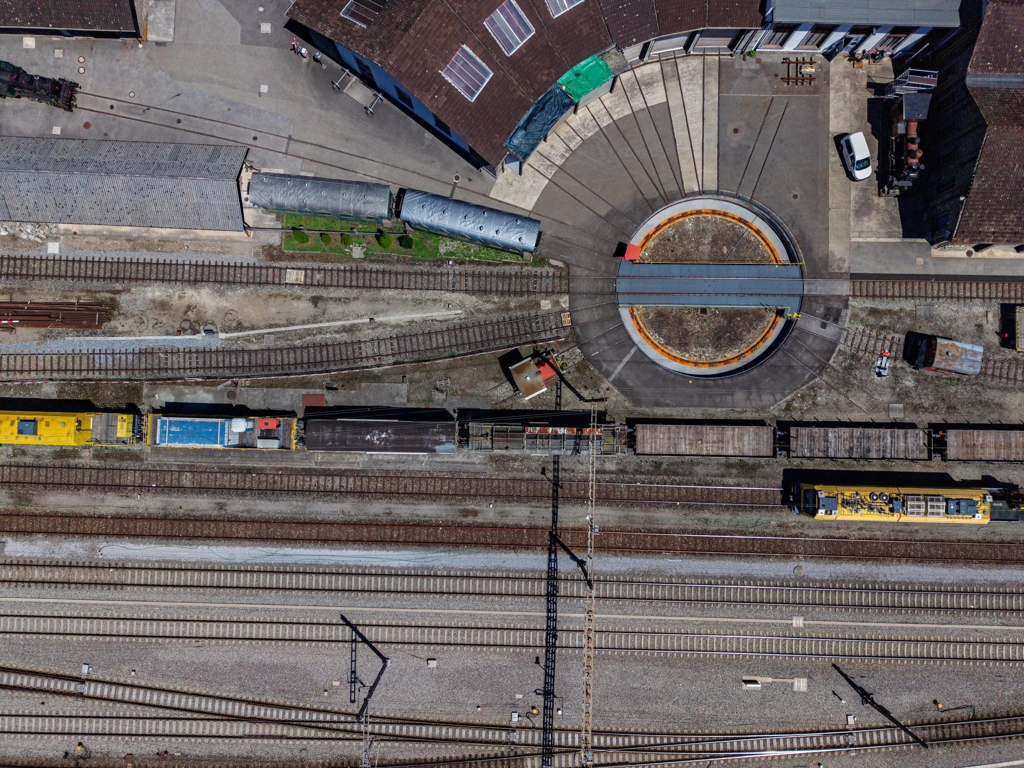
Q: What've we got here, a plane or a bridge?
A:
bridge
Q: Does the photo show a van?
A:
Yes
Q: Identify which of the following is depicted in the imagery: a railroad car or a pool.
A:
railroad car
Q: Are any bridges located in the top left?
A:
No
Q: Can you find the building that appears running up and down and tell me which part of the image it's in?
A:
top right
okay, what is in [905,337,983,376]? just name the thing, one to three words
rail car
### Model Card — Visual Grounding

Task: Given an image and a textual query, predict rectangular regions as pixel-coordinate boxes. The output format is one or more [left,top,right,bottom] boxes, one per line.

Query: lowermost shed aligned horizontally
[0,136,268,236]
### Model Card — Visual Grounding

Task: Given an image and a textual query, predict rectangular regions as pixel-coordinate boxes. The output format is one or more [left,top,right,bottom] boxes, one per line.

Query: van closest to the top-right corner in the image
[839,130,873,185]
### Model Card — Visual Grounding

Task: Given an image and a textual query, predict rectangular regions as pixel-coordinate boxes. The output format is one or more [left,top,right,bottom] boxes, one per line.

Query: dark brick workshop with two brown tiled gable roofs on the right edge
[924,0,1024,245]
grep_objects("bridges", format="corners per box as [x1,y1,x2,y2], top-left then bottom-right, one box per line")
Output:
[617,235,803,321]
